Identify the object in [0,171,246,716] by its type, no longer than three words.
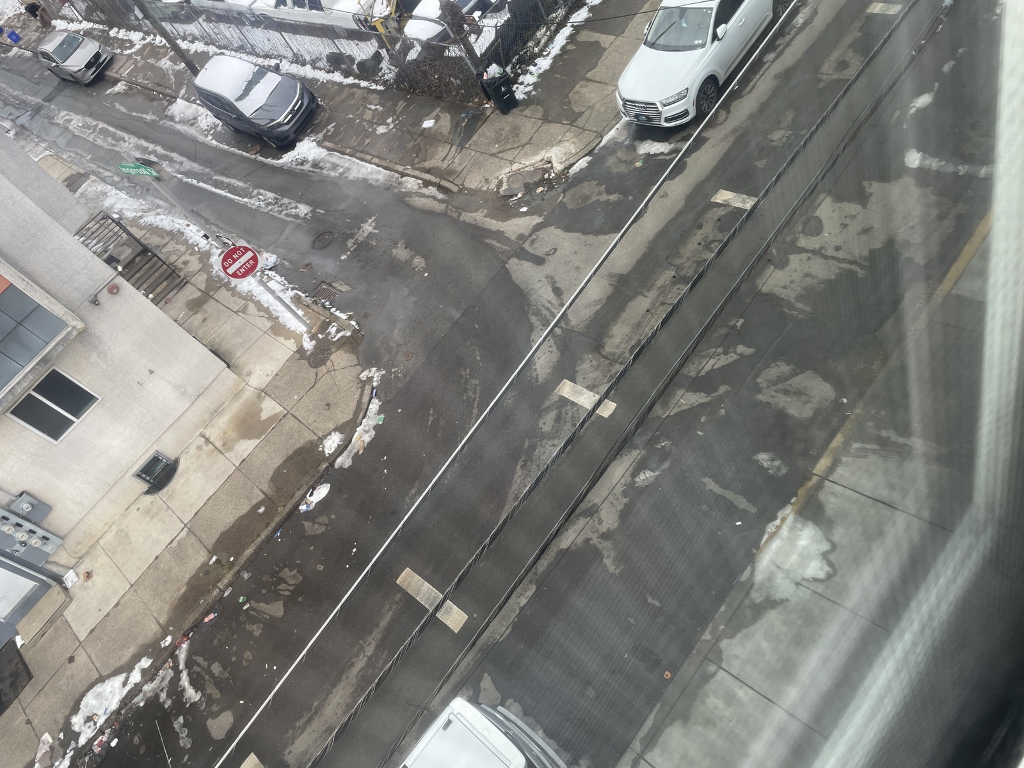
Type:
building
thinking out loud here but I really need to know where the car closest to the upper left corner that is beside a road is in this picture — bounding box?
[38,28,114,89]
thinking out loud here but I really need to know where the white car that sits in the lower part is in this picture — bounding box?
[392,695,566,768]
